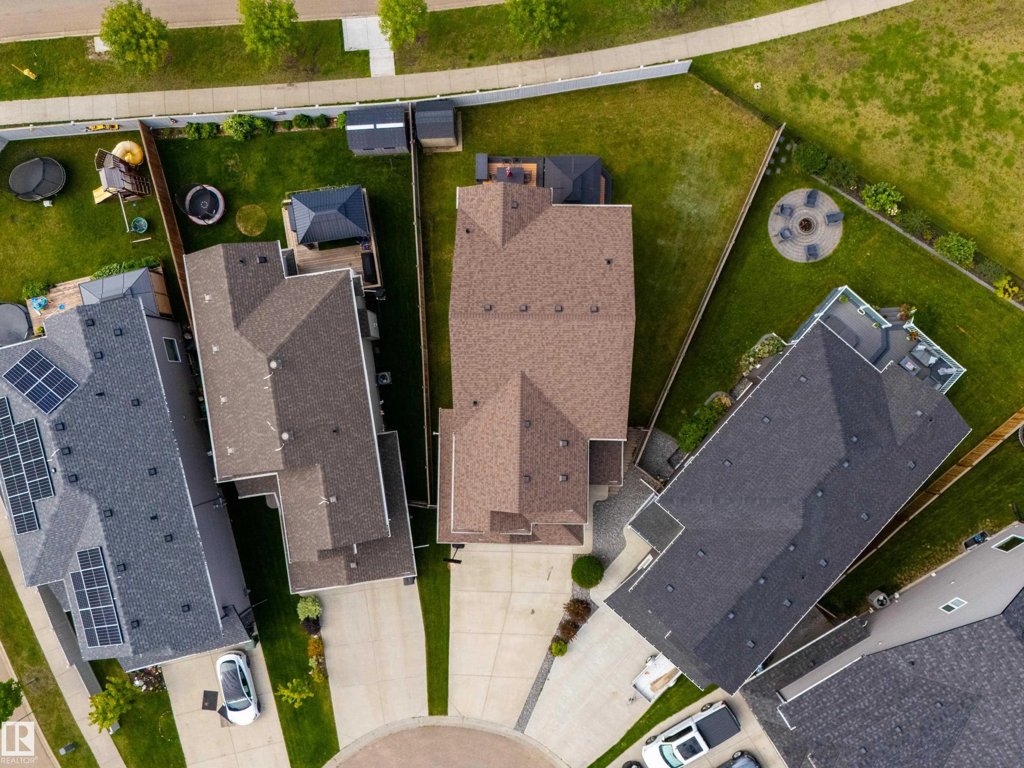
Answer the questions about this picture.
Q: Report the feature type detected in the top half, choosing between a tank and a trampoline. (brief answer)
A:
trampoline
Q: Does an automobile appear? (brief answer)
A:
Yes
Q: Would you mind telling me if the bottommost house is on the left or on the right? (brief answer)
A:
right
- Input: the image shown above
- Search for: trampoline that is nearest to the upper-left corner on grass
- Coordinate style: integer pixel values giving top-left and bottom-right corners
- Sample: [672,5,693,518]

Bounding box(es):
[17,157,74,206]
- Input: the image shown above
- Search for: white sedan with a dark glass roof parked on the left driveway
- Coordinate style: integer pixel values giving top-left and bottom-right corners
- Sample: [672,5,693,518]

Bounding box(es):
[210,654,260,733]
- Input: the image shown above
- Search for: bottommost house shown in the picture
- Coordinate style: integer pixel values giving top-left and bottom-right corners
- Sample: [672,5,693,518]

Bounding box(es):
[747,533,1024,768]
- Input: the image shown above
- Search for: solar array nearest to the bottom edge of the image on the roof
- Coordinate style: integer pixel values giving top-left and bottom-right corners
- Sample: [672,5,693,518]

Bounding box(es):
[67,548,121,649]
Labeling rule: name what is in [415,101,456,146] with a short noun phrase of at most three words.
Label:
shed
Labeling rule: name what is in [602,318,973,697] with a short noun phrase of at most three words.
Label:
house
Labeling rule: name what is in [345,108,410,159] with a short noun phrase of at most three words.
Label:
shed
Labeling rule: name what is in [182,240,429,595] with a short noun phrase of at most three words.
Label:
house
